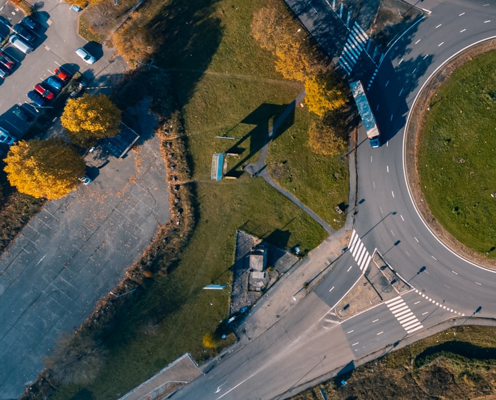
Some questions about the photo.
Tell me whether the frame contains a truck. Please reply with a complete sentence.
Yes, you can see a truck in this photo.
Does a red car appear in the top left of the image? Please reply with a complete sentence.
Yes, I can see a red car in the top left of the image.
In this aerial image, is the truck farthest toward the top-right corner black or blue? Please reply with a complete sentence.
From above, the truck farthest toward the top-right corner appears blue.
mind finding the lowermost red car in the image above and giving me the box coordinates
[35,83,55,100]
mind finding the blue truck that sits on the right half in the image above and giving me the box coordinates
[350,79,387,149]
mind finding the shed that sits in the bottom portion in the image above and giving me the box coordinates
[249,247,267,271]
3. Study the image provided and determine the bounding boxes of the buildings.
[107,124,144,157]
[249,247,267,271]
